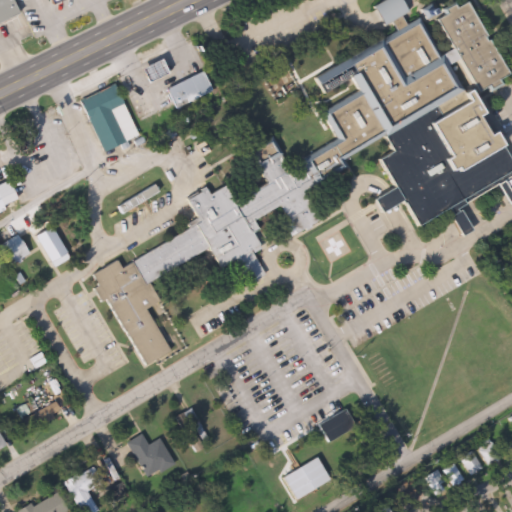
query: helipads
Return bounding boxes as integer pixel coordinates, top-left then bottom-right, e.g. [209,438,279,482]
[316,229,352,262]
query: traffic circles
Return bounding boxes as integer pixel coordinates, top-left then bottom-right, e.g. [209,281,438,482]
[240,238,330,314]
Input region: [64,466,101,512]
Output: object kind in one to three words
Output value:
house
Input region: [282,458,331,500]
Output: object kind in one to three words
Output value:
building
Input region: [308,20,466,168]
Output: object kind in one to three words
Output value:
building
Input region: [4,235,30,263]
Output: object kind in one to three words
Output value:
house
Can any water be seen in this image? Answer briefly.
No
